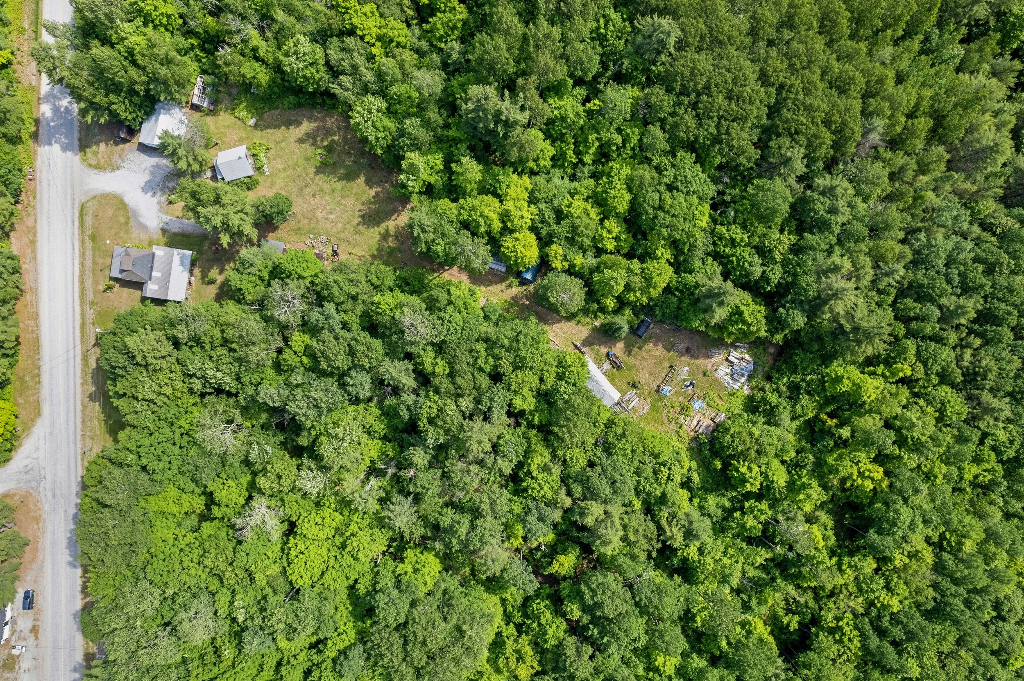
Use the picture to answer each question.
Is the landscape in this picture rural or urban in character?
rural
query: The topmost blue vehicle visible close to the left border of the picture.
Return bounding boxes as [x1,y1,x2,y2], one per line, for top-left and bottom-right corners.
[21,590,34,612]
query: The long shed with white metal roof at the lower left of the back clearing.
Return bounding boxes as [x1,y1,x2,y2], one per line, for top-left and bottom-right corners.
[582,355,621,408]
